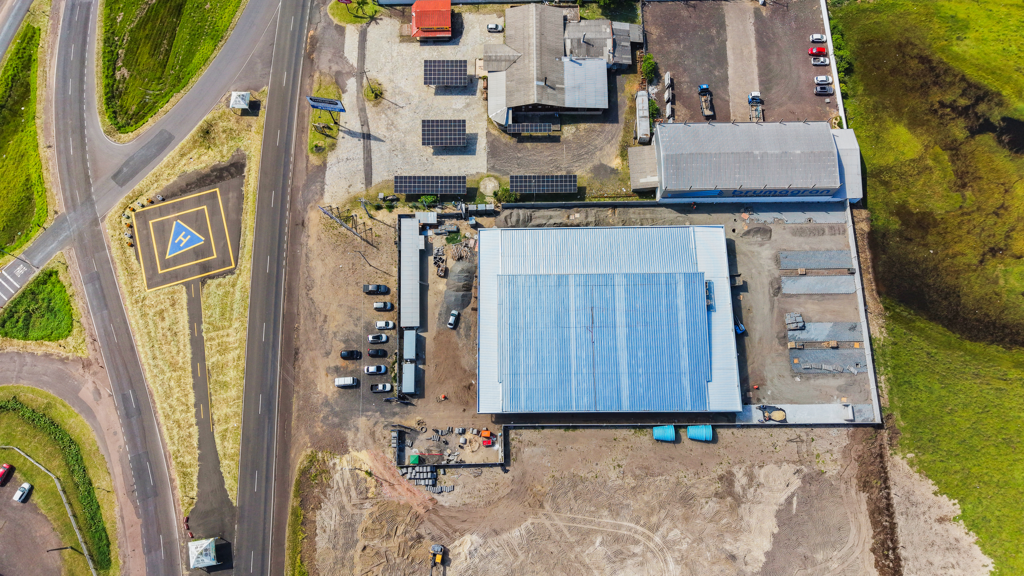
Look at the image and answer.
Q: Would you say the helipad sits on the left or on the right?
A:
left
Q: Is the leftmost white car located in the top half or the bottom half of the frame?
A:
bottom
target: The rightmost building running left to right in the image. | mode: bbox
[651,118,842,200]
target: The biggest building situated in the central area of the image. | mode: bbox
[478,227,740,412]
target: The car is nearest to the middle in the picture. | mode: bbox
[446,310,459,330]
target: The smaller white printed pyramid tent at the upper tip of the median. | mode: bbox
[229,91,254,114]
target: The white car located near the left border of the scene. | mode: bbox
[12,482,33,503]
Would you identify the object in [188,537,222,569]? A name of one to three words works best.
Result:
tent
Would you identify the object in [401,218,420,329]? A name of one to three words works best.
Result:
shed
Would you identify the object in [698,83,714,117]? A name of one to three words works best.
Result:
vehicle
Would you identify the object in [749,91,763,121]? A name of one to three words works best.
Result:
vehicle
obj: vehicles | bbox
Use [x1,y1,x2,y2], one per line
[339,349,362,359]
[367,348,387,358]
[749,91,763,121]
[366,333,388,343]
[373,301,393,311]
[807,47,827,56]
[698,83,714,117]
[369,382,392,392]
[363,284,388,294]
[12,482,33,503]
[446,310,459,330]
[0,464,14,486]
[375,320,395,329]
[813,76,832,85]
[809,34,826,43]
[810,57,829,66]
[428,539,446,576]
[364,364,387,374]
[333,377,358,387]
[486,24,503,33]
[812,86,834,96]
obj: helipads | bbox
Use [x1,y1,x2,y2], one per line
[132,175,245,576]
